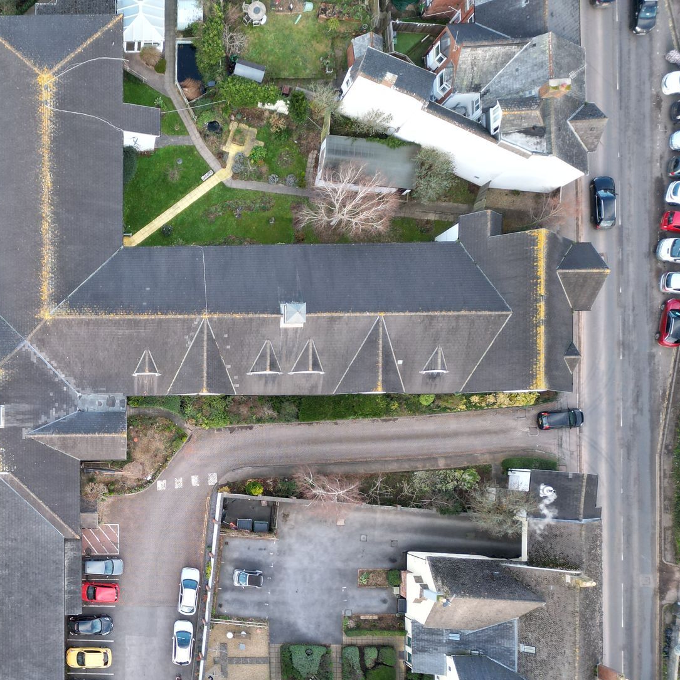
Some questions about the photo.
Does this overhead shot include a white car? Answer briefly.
Yes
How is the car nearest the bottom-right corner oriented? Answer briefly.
from left to right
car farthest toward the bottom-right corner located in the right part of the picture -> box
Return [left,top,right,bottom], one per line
[535,407,581,429]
